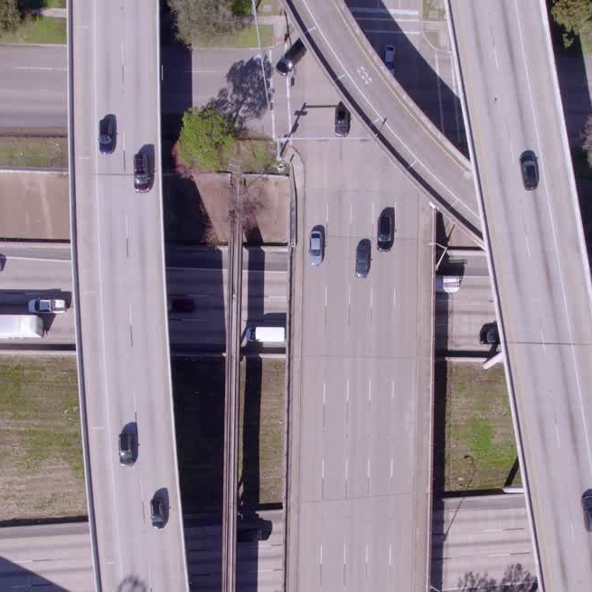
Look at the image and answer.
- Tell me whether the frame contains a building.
No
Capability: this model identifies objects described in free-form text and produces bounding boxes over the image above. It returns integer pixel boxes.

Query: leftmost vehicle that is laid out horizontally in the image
[0,316,46,340]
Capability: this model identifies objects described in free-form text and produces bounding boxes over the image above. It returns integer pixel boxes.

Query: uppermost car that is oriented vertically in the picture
[383,43,397,75]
